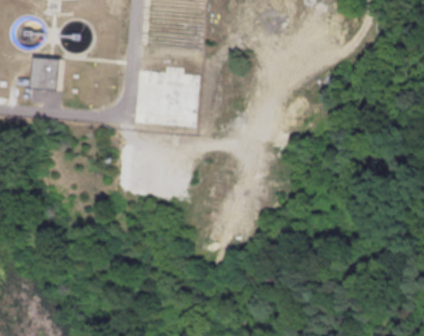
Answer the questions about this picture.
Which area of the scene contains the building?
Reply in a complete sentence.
Look in the top left portion of the view to spot the building.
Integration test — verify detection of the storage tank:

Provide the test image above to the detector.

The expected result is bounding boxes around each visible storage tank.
[9,14,48,52]
[58,18,96,56]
